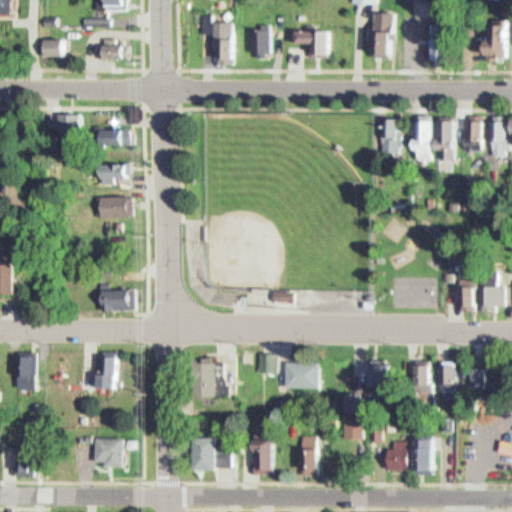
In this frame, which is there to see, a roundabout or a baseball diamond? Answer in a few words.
baseball diamond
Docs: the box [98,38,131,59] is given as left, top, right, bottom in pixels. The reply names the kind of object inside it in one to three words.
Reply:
house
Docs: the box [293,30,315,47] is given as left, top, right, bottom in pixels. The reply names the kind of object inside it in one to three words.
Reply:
building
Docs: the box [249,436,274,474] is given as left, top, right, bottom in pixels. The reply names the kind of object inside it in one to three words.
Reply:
house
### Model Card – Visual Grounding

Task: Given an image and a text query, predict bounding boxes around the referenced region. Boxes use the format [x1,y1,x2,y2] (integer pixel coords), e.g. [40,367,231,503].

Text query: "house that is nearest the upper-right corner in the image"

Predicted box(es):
[480,23,508,60]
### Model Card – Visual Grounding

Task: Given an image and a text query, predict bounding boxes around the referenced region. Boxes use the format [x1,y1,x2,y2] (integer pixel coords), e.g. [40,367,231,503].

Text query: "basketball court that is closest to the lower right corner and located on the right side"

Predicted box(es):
[394,278,438,308]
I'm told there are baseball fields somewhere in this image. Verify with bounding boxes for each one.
[206,113,371,288]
